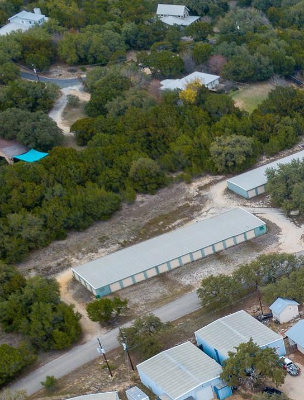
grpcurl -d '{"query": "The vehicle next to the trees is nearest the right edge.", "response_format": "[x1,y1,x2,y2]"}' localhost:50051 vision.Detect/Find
[279,358,302,375]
